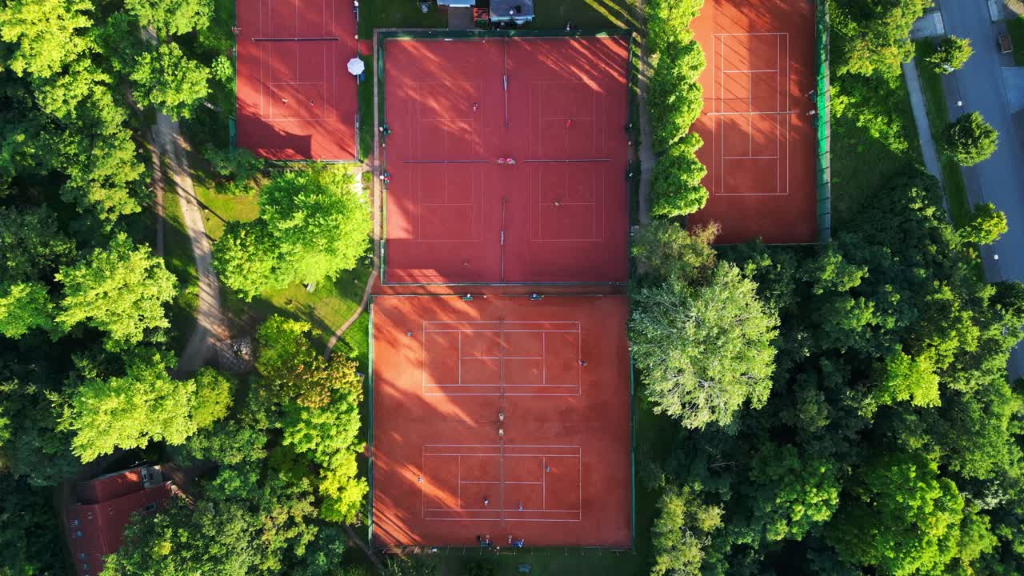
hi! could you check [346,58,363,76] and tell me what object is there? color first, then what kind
white umbrella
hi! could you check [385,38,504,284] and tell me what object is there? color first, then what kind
red tennis court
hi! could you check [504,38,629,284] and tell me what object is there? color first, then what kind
red tennis court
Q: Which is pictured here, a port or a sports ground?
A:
sports ground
